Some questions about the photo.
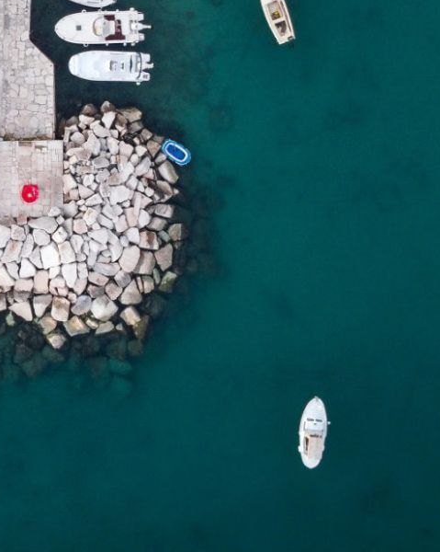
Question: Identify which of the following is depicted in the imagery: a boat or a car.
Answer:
boat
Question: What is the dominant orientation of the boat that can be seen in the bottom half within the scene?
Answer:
from top to bottom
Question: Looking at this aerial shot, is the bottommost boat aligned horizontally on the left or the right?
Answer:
left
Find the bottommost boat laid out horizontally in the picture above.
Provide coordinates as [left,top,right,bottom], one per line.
[69,51,156,85]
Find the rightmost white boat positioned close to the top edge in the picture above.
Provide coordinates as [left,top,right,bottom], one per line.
[262,0,298,46]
